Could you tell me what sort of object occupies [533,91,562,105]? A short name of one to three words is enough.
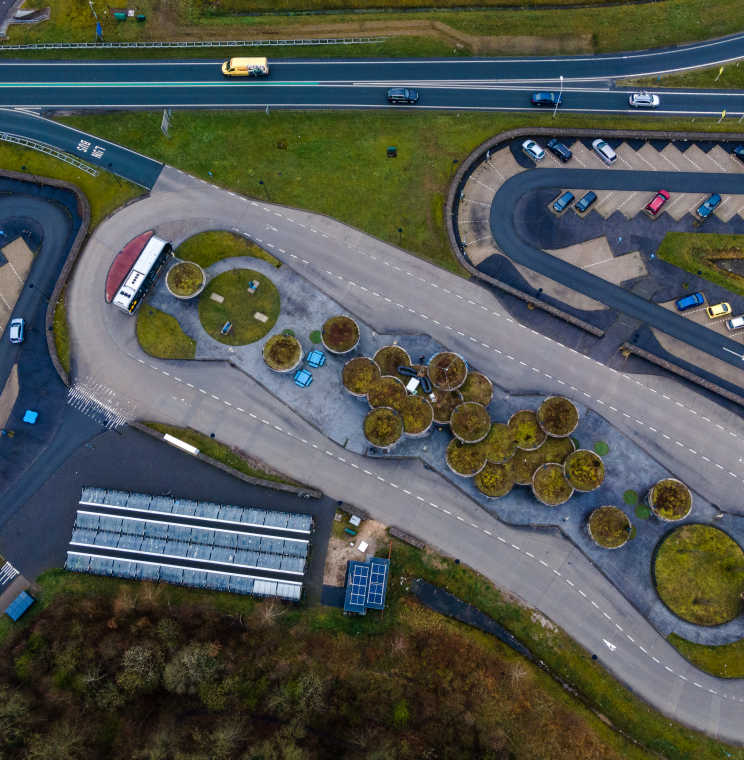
car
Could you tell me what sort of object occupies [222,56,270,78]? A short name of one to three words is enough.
vehicle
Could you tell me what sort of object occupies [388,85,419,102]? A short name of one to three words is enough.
car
